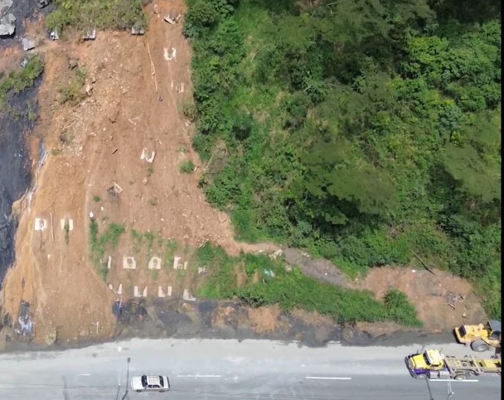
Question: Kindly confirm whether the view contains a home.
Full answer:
No, no home is visible in the view.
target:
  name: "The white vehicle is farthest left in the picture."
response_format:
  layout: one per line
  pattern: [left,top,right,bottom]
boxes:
[129,372,170,391]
